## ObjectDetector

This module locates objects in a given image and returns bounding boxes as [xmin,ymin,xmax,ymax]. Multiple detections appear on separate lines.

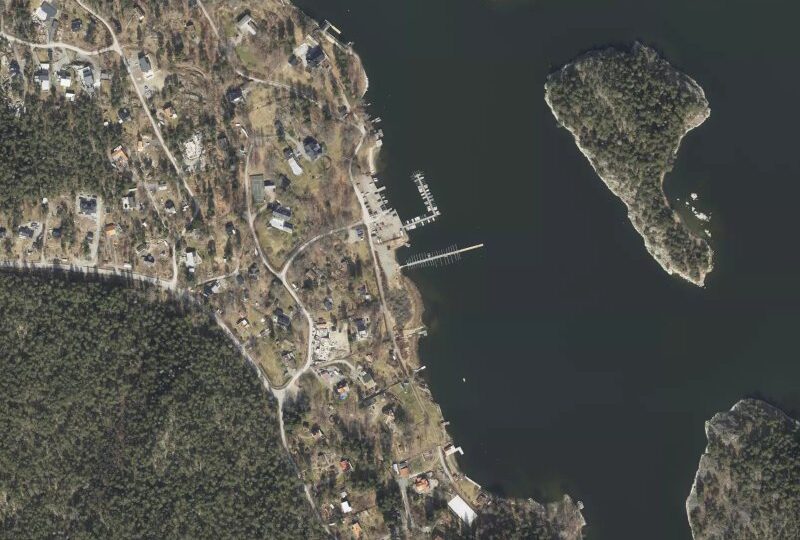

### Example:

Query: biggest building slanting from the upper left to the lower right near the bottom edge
[448,495,478,525]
